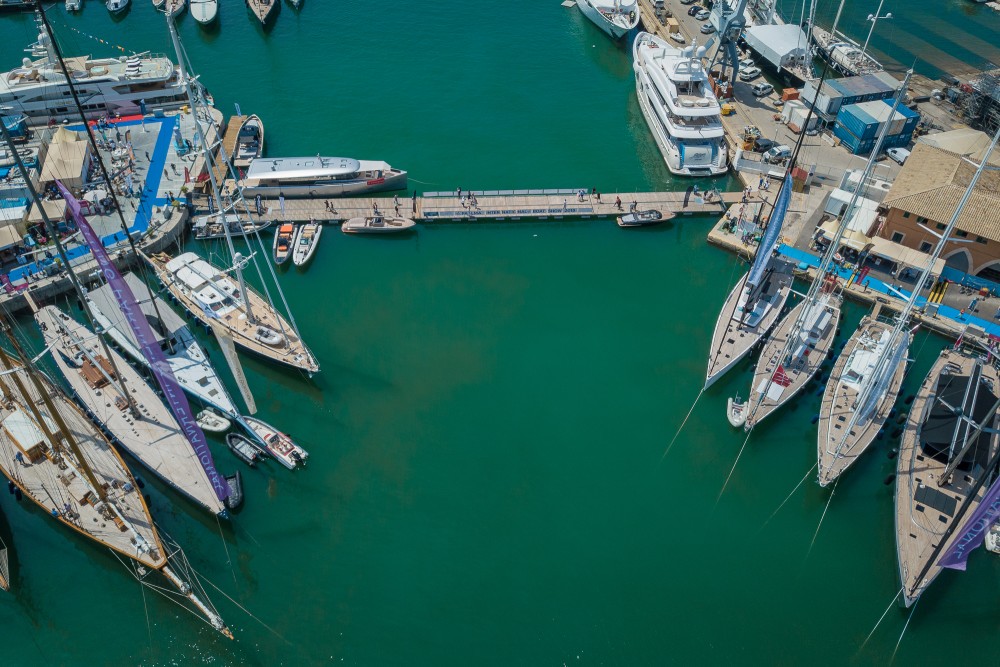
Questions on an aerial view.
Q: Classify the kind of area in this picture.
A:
port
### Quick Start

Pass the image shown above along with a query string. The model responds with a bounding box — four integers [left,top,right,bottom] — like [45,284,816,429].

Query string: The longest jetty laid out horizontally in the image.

[185,175,723,227]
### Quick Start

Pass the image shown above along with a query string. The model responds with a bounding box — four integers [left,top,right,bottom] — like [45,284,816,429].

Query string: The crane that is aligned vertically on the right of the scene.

[701,0,763,91]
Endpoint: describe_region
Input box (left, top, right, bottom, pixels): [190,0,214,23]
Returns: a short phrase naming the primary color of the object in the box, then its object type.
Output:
white boat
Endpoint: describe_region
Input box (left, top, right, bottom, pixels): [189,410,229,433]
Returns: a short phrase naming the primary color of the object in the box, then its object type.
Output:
white boat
